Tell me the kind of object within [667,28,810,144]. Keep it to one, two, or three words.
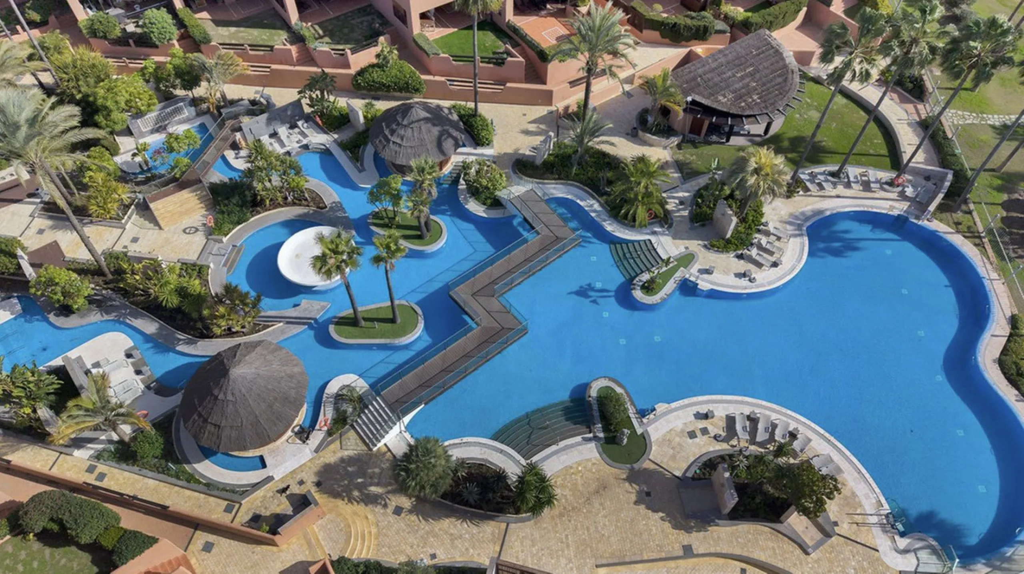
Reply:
building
